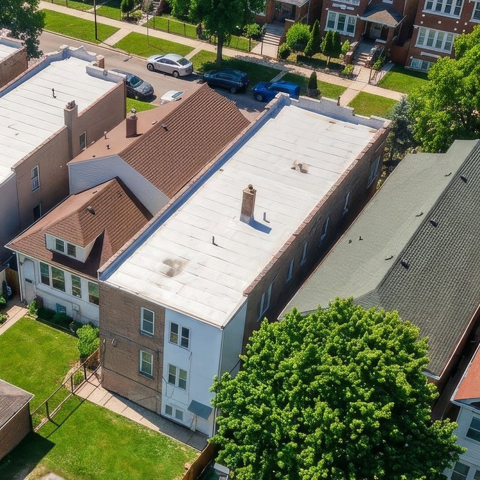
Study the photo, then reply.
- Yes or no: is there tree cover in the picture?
Yes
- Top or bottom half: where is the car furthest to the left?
top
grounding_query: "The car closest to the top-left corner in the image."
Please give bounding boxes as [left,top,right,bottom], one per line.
[105,73,156,99]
